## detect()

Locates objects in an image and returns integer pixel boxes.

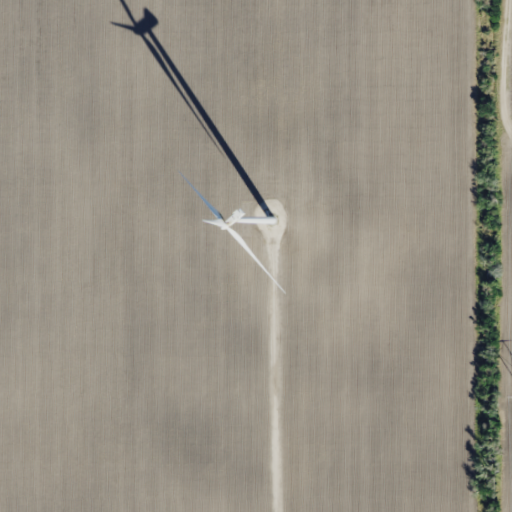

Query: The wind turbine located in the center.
[176,170,285,291]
